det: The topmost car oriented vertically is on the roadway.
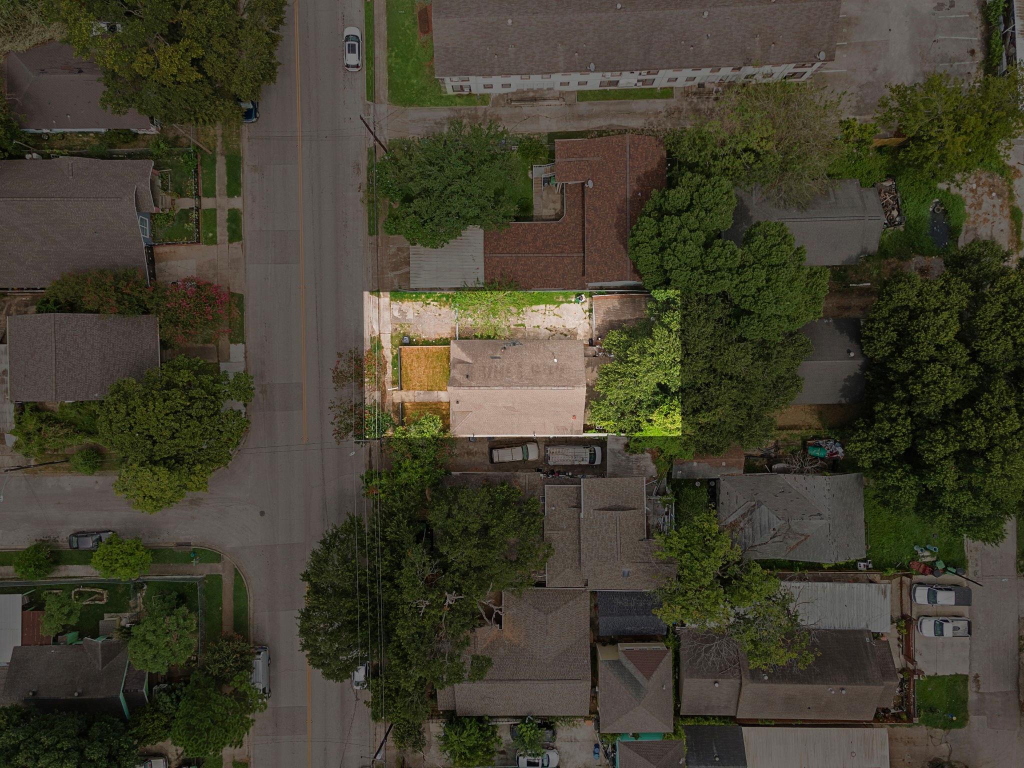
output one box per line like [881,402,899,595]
[341,28,364,75]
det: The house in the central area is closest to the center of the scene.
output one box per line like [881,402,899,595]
[449,341,586,436]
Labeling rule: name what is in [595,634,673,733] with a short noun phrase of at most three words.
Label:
house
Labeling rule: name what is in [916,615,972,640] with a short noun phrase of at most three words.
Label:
truck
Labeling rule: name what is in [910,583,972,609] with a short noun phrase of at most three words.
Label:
truck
